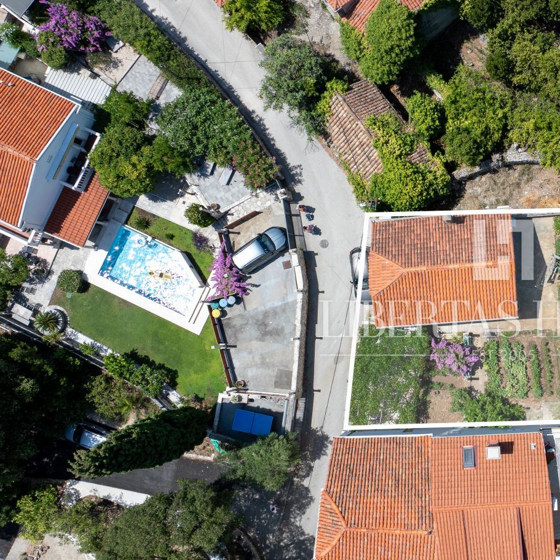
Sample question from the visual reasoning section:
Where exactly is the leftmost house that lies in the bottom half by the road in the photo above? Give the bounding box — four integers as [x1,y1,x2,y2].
[313,424,438,560]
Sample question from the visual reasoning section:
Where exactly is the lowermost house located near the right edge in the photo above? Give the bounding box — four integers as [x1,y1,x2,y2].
[432,422,559,560]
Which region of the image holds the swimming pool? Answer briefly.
left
